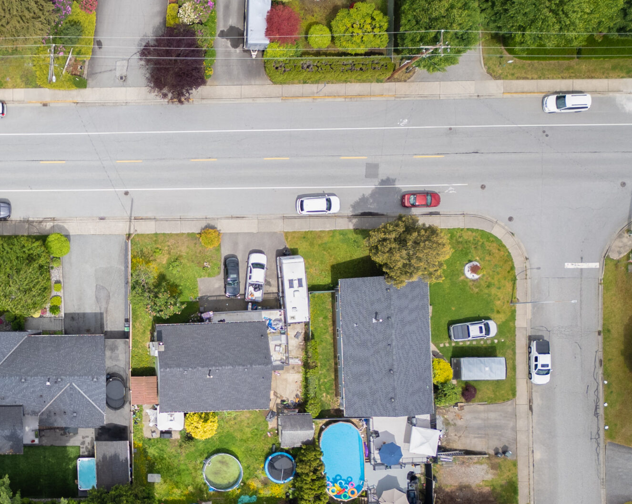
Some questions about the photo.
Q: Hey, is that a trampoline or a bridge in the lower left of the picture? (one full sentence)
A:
The feature located in the lower left of the picture is a trampoline.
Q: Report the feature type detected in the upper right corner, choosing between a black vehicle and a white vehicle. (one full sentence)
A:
You can see a white vehicle in the upper right corner.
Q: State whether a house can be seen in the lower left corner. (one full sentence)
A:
Yes, there is a house in the lower left corner.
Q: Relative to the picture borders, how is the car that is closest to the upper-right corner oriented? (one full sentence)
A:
The car that is closest to the upper-right corner is oriented from side to side.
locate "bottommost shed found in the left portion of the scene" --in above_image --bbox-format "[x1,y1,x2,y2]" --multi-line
[94,440,130,492]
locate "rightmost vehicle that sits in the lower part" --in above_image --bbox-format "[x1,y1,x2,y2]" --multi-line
[527,340,552,384]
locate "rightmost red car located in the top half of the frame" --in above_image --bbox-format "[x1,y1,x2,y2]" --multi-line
[399,191,440,209]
